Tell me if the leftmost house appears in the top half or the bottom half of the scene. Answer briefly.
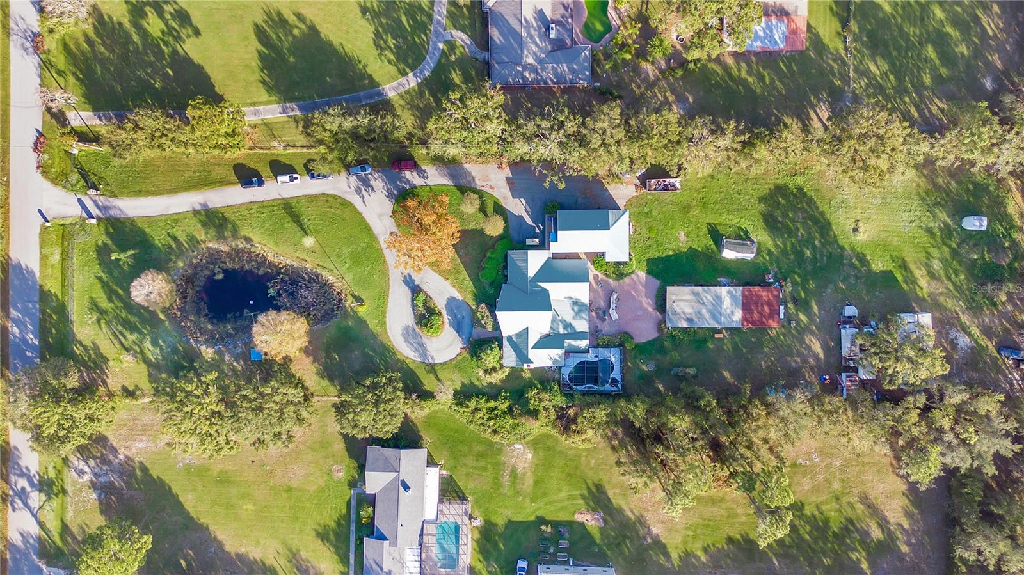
bottom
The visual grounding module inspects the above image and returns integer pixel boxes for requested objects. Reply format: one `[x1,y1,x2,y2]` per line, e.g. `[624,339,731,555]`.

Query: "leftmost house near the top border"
[481,0,592,87]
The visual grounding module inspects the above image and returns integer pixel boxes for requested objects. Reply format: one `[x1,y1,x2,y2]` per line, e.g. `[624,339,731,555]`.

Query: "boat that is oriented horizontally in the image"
[961,216,992,230]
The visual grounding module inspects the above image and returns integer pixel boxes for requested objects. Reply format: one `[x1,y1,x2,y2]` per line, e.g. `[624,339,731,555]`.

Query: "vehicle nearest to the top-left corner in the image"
[240,177,266,189]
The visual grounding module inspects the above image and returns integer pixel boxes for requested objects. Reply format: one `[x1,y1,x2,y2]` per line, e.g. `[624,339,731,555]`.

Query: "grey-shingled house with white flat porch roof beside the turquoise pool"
[363,445,440,575]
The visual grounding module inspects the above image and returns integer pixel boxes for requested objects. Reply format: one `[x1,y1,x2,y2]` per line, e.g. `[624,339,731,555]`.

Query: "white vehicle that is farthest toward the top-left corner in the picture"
[276,173,301,185]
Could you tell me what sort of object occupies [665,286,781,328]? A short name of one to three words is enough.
shed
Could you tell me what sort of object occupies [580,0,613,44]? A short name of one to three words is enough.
swimming pool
